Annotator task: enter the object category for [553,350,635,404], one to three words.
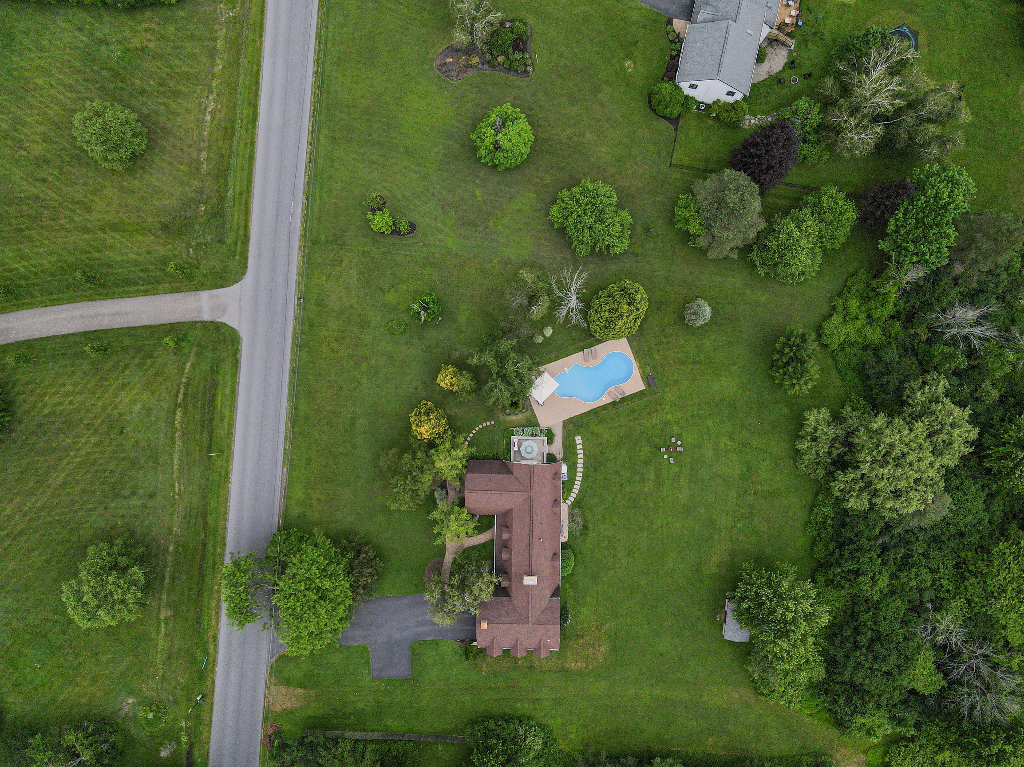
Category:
swimming pool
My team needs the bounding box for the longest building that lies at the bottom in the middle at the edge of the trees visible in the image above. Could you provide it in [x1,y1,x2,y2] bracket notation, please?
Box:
[465,460,563,658]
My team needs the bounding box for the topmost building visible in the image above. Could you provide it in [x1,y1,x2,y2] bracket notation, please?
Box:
[675,0,780,104]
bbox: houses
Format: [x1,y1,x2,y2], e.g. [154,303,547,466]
[675,0,780,104]
[465,460,563,658]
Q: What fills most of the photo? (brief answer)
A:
grass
